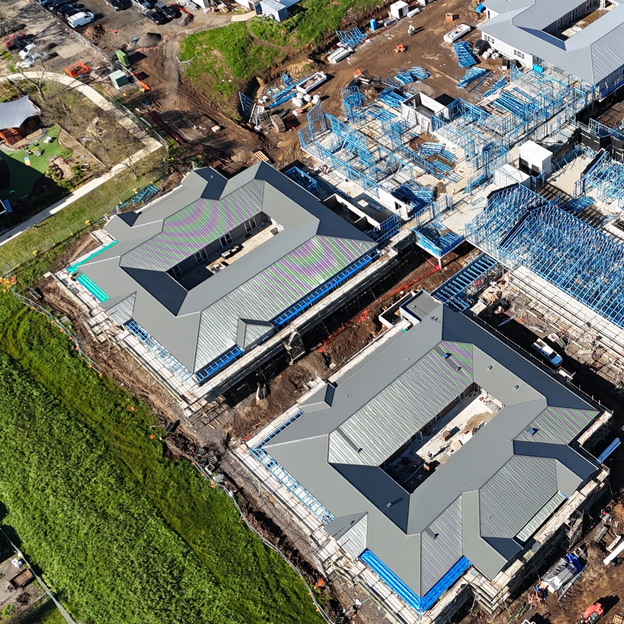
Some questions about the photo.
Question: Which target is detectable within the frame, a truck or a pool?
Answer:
truck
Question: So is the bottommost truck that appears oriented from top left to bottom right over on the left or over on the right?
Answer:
right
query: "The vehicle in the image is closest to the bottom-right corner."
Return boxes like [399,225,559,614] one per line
[572,588,612,624]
